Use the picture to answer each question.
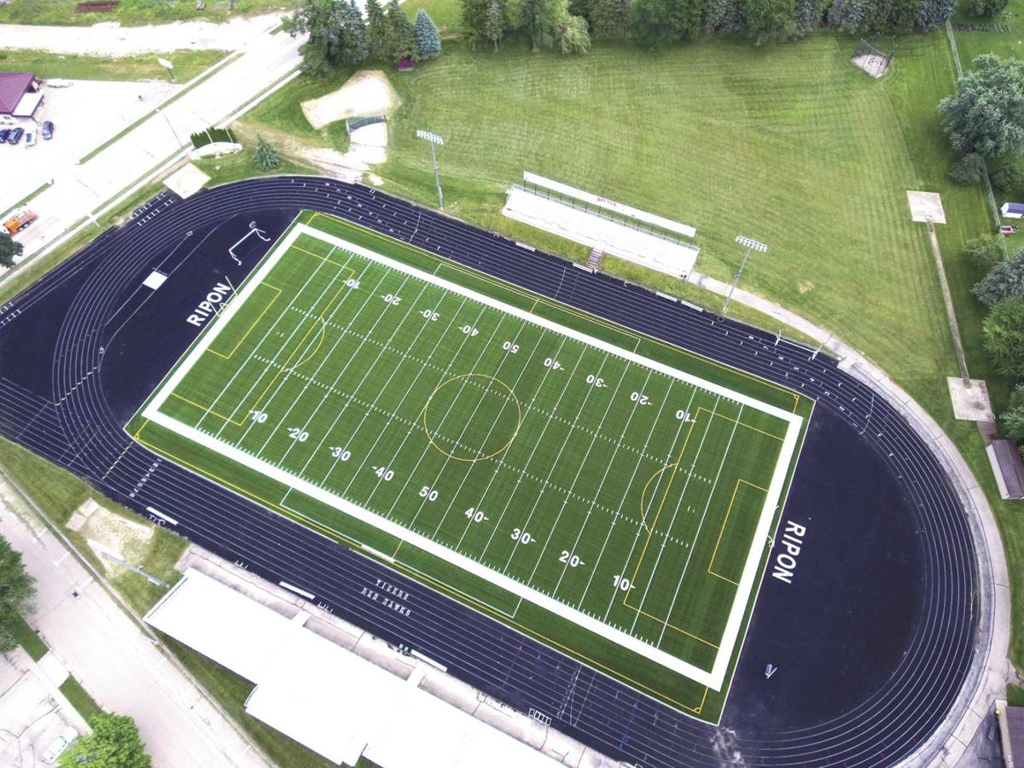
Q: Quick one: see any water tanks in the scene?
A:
No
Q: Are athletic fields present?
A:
Yes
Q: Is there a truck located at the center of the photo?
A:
No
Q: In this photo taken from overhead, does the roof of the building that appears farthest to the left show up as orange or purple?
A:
purple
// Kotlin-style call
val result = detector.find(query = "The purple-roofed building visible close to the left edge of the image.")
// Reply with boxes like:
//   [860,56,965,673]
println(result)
[0,72,51,126]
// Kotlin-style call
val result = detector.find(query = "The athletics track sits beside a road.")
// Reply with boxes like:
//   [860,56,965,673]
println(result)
[0,176,981,768]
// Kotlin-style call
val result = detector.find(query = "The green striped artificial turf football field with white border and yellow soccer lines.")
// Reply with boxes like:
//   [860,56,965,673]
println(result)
[122,208,816,724]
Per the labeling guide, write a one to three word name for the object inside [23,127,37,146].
car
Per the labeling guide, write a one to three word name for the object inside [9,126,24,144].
car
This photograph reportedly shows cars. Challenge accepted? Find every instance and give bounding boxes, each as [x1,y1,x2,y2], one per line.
[23,127,37,146]
[0,127,11,143]
[41,726,77,764]
[42,121,54,138]
[9,126,24,144]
